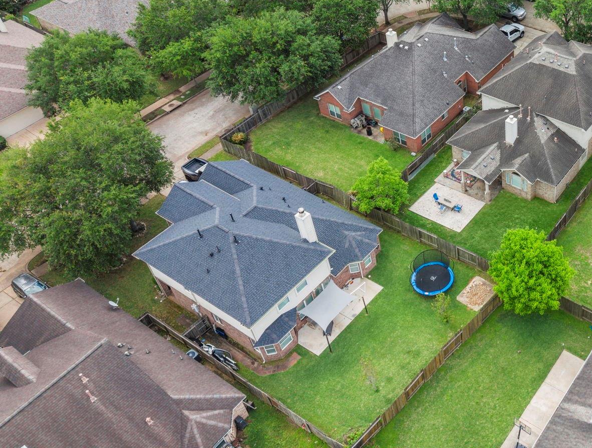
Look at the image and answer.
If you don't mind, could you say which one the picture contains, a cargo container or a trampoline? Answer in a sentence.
It is a trampoline that can be seen here.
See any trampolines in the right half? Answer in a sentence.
Yes, in the right half there is a trampoline.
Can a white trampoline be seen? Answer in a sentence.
No, there appears to be no white trampoline in this shot.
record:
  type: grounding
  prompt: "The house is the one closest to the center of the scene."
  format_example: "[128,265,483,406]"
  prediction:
[132,159,383,366]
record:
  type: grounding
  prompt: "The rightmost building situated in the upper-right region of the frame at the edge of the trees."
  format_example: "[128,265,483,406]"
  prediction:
[446,31,592,204]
